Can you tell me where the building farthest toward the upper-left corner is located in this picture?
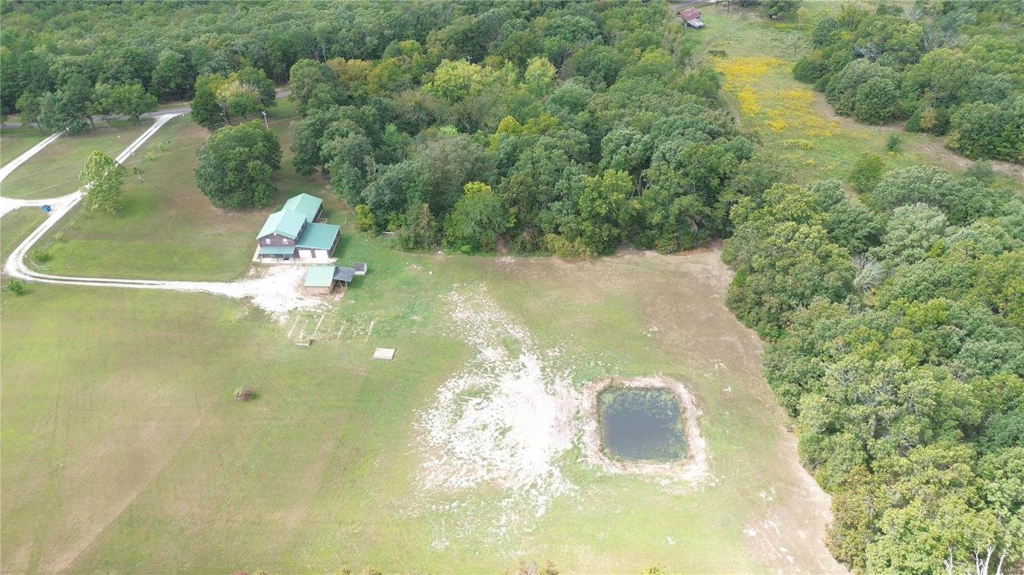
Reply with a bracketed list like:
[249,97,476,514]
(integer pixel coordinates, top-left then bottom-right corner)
[251,192,340,264]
